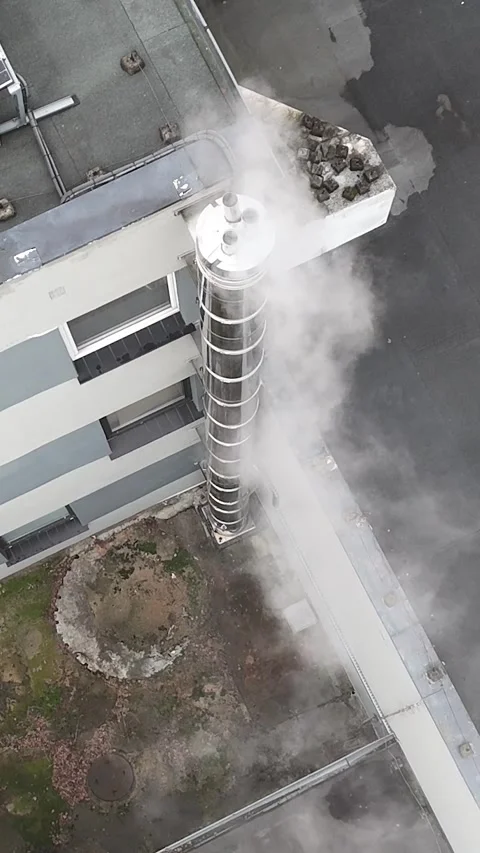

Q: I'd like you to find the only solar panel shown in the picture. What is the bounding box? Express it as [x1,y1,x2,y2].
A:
[0,42,36,117]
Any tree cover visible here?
No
